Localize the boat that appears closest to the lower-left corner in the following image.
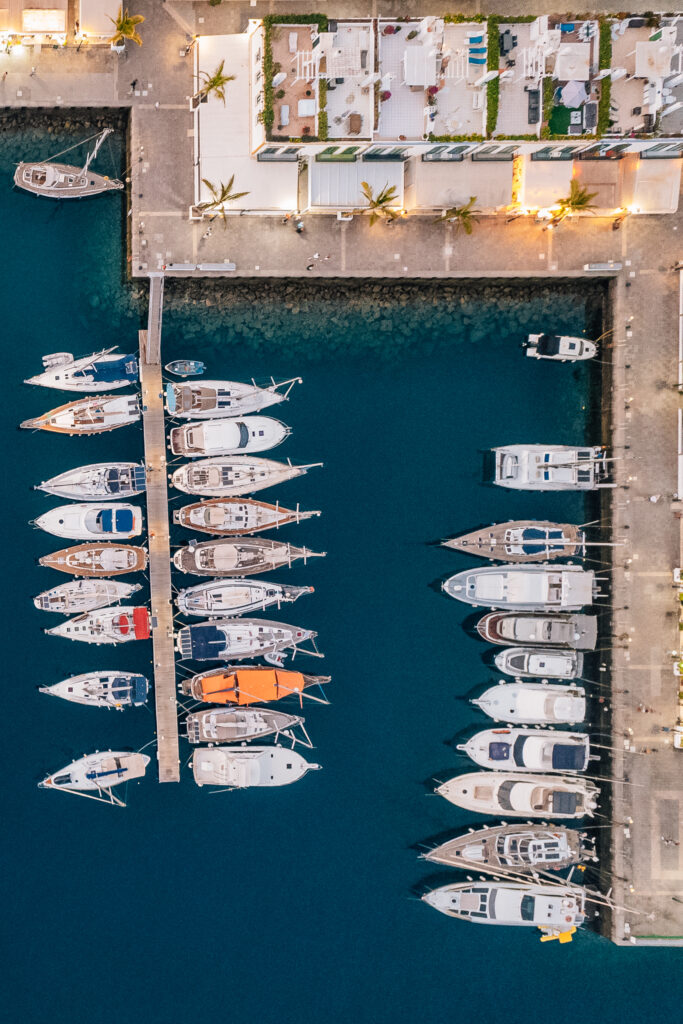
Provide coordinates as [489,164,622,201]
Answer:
[37,740,156,806]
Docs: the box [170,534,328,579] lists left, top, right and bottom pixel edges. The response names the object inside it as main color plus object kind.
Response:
gray boat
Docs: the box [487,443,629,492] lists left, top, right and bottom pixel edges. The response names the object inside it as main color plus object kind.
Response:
white boat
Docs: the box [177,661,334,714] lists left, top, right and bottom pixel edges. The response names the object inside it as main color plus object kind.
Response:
orange boat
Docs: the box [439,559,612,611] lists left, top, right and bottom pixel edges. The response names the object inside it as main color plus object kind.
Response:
white boat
